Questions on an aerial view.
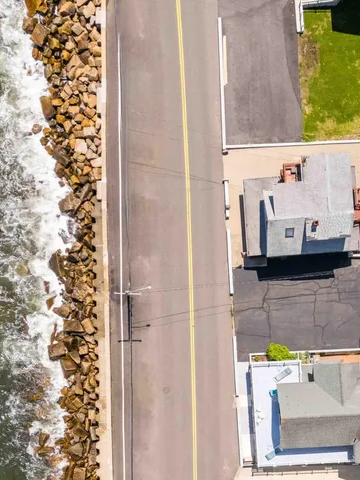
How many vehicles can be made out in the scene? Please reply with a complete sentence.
The photo contains no vehicles.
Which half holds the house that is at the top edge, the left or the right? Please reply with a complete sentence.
You can find the house that is at the top edge on the right side of the picture.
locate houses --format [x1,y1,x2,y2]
[250,352,360,468]
[296,0,341,39]
[243,152,360,262]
